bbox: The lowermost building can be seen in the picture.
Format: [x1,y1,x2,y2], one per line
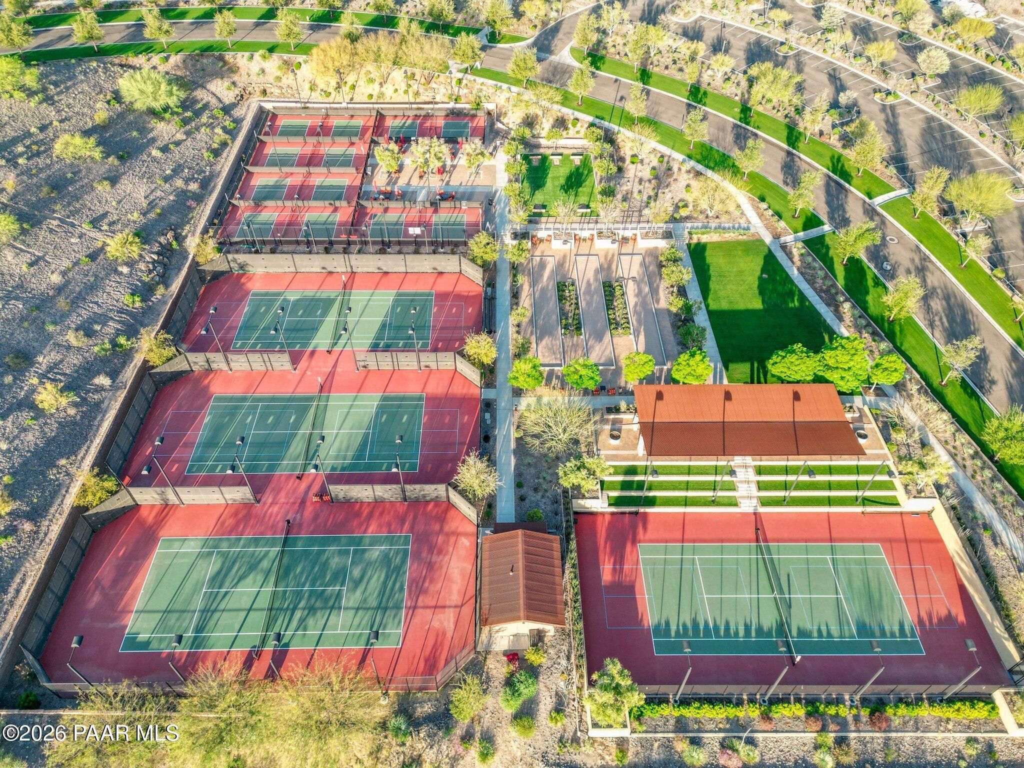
[481,522,567,637]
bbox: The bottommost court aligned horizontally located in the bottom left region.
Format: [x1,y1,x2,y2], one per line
[39,501,476,697]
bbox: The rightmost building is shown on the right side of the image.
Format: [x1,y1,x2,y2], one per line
[618,383,870,457]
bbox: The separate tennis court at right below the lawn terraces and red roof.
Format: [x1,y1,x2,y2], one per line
[574,511,1008,696]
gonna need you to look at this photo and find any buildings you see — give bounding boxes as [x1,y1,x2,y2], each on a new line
[481,522,567,637]
[618,383,870,457]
